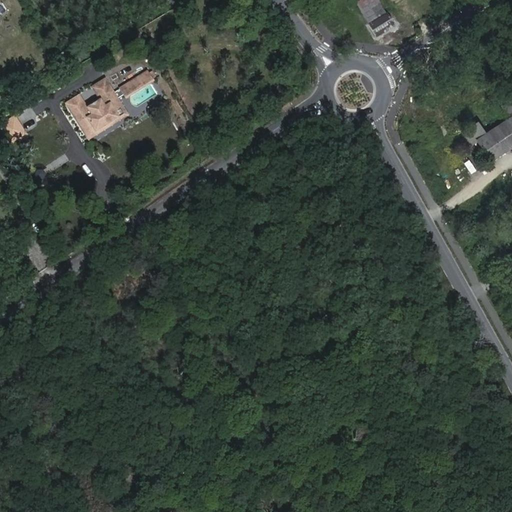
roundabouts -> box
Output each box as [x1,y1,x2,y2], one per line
[319,54,392,127]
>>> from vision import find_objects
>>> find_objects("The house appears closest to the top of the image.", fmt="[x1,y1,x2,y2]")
[359,0,402,38]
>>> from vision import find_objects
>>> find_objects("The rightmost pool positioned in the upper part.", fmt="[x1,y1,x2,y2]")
[128,82,158,106]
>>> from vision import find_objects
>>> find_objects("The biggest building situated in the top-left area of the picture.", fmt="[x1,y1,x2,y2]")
[65,75,130,142]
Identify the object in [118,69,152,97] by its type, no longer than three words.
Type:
shed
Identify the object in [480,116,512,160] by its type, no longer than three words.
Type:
house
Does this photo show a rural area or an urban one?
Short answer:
rural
